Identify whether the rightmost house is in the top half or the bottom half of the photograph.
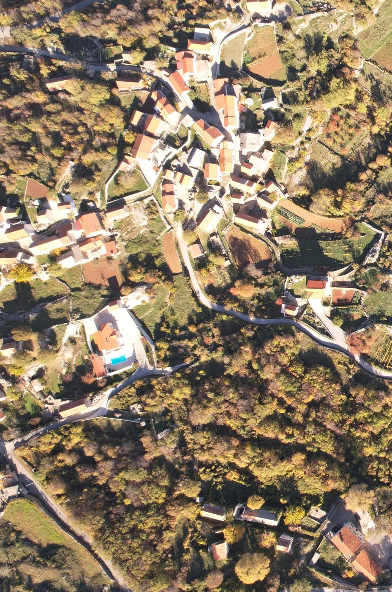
bottom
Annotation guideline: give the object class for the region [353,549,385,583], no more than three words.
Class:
house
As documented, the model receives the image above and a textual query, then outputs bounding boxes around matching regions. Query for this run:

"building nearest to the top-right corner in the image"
[245,0,272,13]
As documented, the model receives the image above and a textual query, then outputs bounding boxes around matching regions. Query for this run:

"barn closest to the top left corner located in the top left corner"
[45,75,79,93]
